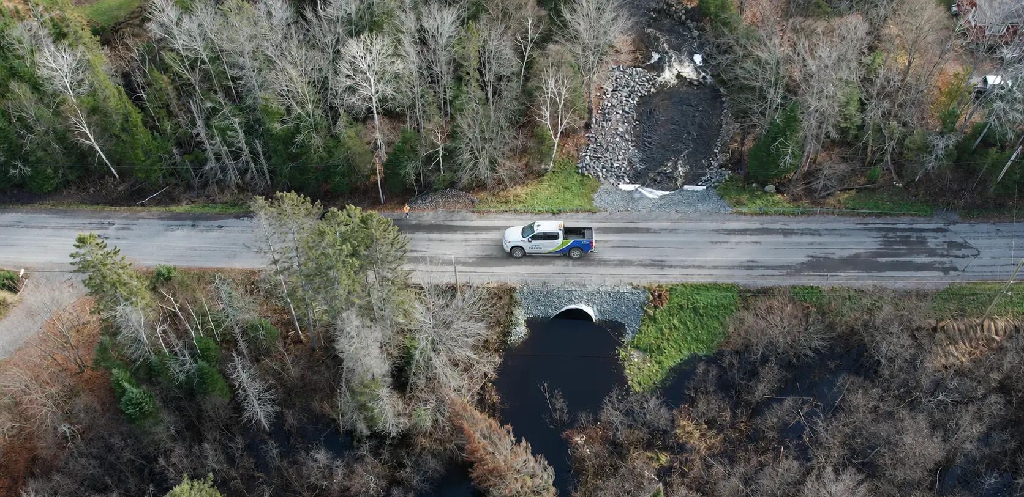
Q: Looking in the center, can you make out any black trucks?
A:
No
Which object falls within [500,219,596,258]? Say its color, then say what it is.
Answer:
white truck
